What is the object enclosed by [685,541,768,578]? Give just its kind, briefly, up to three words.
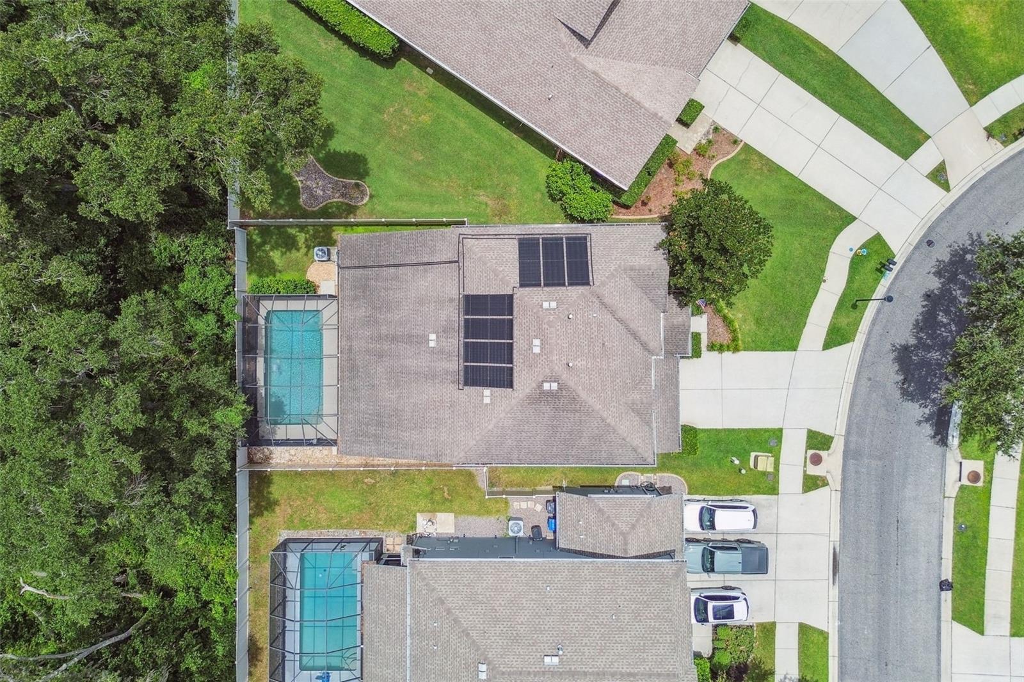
truck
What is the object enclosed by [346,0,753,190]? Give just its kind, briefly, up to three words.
house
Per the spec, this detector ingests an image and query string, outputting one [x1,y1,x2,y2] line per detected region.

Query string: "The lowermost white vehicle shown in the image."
[691,590,751,627]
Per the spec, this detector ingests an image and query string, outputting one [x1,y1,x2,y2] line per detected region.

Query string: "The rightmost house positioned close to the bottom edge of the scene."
[362,486,695,682]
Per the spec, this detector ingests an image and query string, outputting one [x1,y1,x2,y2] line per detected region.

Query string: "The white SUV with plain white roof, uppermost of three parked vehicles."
[685,501,758,537]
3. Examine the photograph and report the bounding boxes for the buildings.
[362,486,695,682]
[346,0,753,190]
[338,222,696,468]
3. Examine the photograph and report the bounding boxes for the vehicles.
[685,501,758,537]
[685,541,768,578]
[691,590,751,627]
